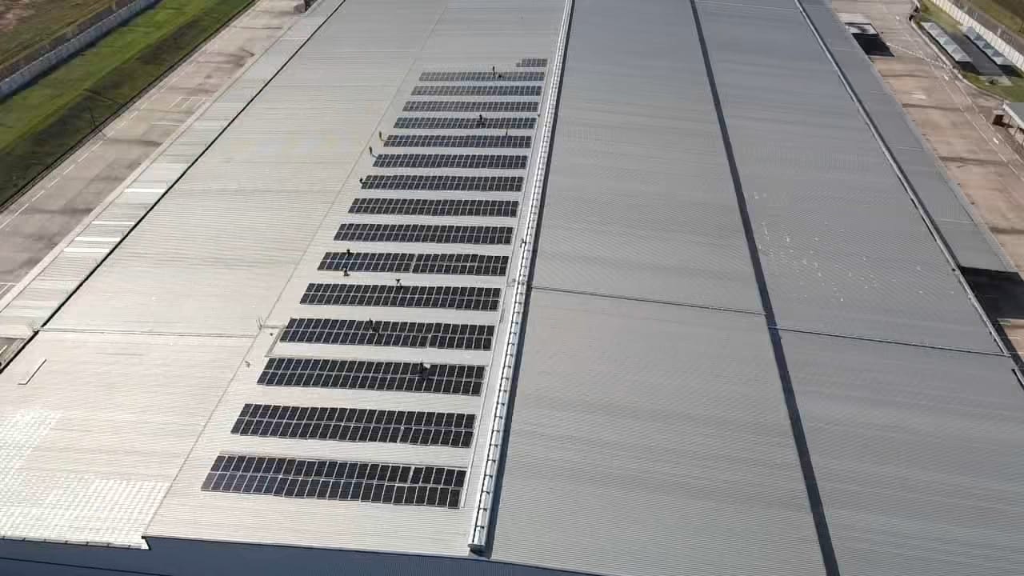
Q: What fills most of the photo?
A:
buildings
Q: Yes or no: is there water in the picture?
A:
No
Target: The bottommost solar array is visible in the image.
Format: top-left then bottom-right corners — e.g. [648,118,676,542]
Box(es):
[200,456,466,507]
